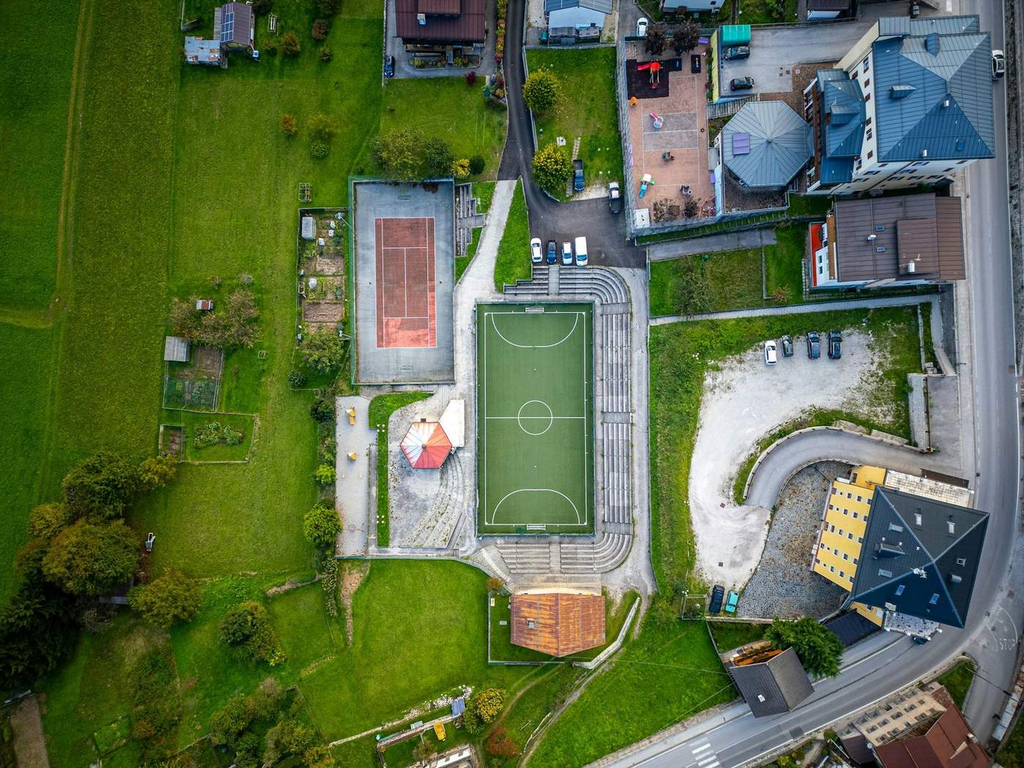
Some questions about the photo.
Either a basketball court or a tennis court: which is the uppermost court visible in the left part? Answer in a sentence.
It turns out the uppermost court visible in the left part is a tennis court.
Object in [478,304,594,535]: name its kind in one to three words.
sports field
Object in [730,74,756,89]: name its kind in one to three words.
car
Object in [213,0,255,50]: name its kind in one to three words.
shed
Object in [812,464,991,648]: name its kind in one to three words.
building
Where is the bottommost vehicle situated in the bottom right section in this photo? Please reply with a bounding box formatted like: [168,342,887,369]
[908,634,934,650]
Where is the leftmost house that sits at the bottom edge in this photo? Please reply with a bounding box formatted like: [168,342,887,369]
[415,737,480,768]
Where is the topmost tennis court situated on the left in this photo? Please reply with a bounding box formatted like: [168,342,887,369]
[353,181,455,384]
